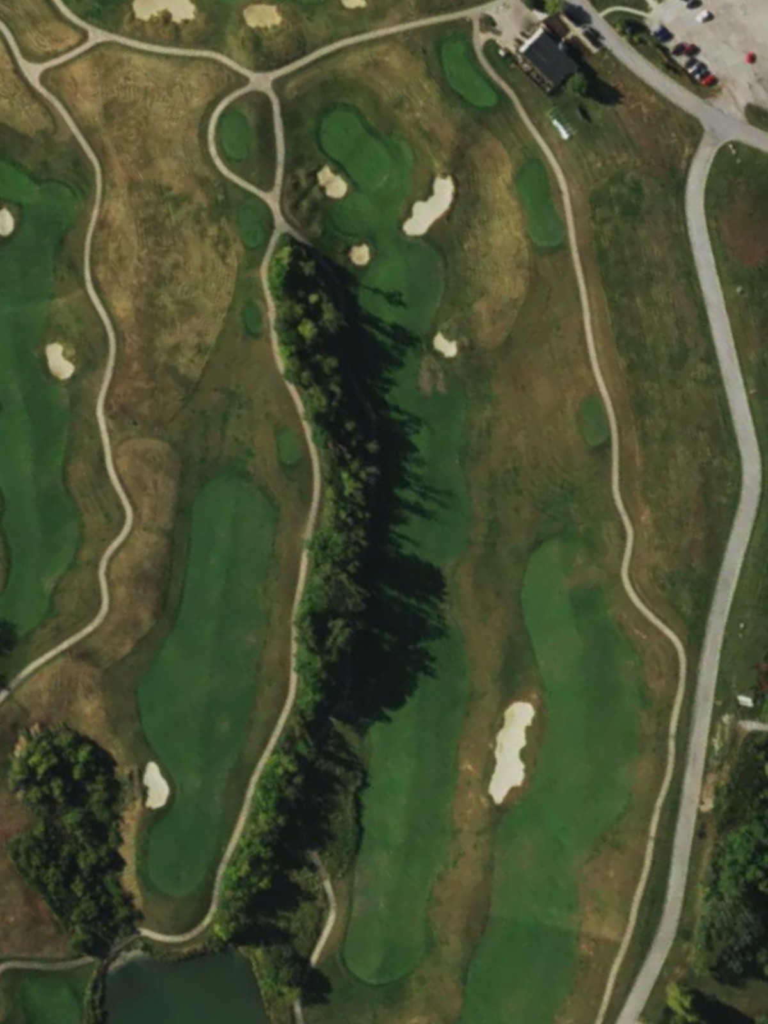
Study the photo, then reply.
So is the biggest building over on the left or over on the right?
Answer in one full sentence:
It is on the right.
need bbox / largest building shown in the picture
[516,23,581,95]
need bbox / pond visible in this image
[101,944,266,1024]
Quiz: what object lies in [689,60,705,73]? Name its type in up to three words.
vehicle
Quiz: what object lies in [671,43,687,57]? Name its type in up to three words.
car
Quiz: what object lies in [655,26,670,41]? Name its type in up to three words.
car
